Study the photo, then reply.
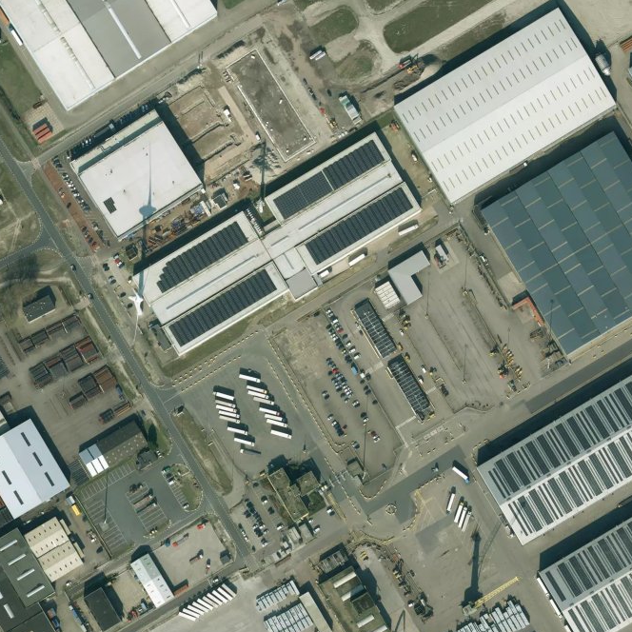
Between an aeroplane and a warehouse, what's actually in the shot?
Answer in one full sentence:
Looking from above, you can make out a warehouse.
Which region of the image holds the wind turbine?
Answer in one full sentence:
The wind turbine appears toward the left of the photo.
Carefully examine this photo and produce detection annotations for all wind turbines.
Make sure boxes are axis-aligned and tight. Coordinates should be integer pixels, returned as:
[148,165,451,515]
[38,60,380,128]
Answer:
[125,259,145,326]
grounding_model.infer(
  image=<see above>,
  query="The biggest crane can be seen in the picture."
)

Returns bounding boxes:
[458,581,521,620]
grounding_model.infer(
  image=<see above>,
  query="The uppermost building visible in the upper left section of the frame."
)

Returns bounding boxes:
[0,0,218,113]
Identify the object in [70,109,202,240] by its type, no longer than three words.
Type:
building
